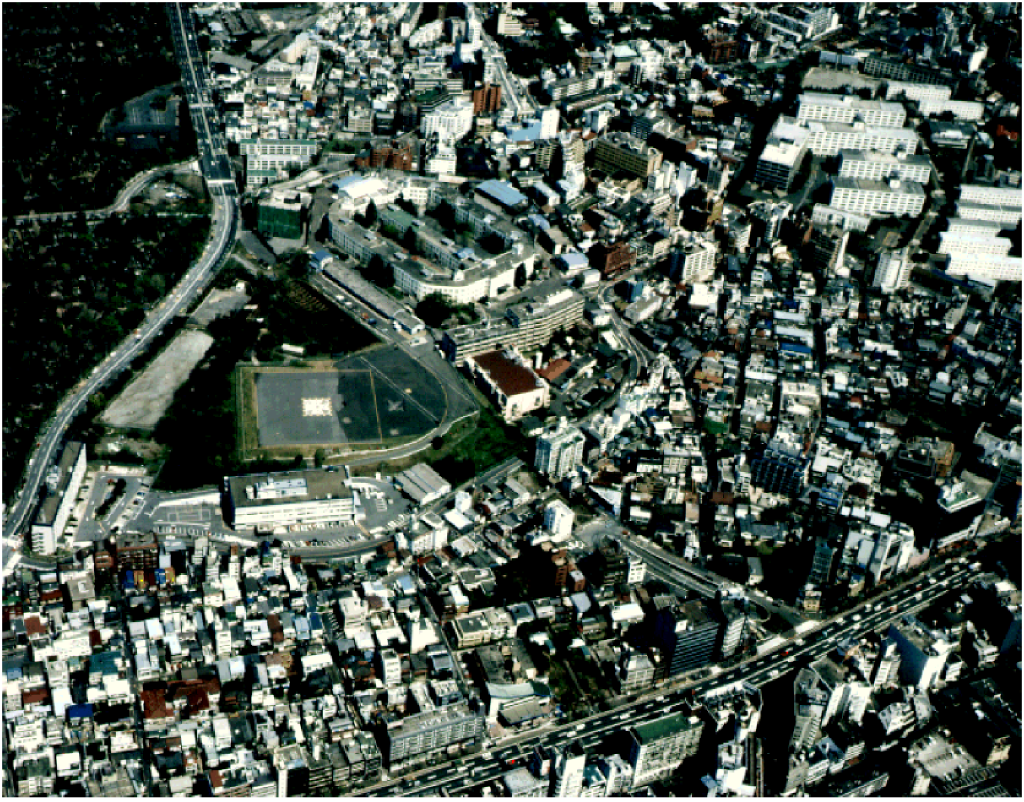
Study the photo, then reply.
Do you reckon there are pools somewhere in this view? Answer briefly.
No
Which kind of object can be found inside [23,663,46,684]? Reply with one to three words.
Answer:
house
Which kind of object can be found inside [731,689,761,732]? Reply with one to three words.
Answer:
building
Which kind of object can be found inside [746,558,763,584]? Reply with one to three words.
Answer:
building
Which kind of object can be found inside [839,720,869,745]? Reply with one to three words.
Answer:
house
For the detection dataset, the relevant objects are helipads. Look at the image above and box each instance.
[299,396,335,417]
